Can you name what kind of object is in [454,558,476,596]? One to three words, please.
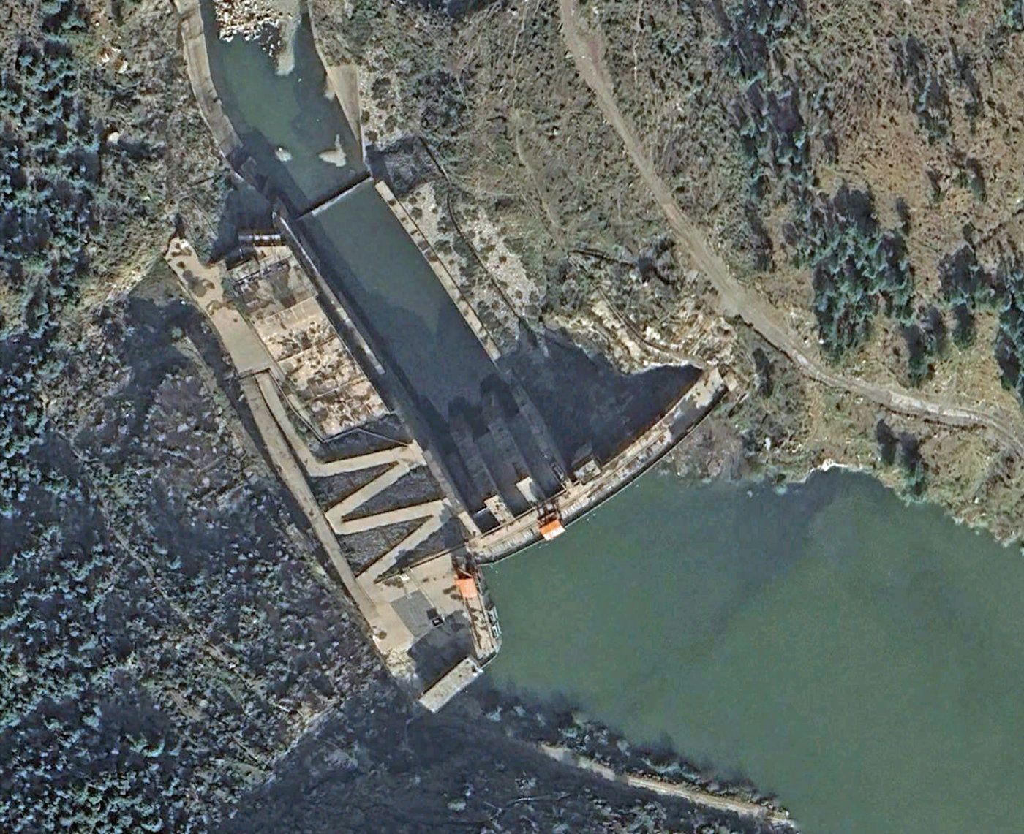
house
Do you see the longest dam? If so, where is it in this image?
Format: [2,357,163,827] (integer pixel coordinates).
[440,370,740,566]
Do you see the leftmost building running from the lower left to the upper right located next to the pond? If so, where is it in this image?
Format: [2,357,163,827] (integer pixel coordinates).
[420,656,483,711]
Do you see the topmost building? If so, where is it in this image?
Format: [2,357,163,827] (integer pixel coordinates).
[574,462,600,484]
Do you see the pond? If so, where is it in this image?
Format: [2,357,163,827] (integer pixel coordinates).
[482,464,1024,834]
